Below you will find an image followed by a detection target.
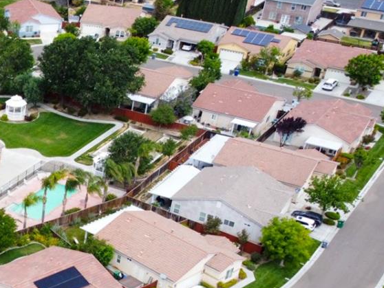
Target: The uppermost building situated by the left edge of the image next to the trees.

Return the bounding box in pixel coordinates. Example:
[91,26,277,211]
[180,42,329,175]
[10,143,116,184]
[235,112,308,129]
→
[5,0,74,34]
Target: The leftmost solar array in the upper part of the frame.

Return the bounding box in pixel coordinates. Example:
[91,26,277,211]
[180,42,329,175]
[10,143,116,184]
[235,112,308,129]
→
[167,17,214,31]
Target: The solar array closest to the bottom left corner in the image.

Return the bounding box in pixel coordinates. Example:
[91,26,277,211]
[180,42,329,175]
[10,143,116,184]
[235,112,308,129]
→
[34,267,82,288]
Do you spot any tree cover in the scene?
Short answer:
Yes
